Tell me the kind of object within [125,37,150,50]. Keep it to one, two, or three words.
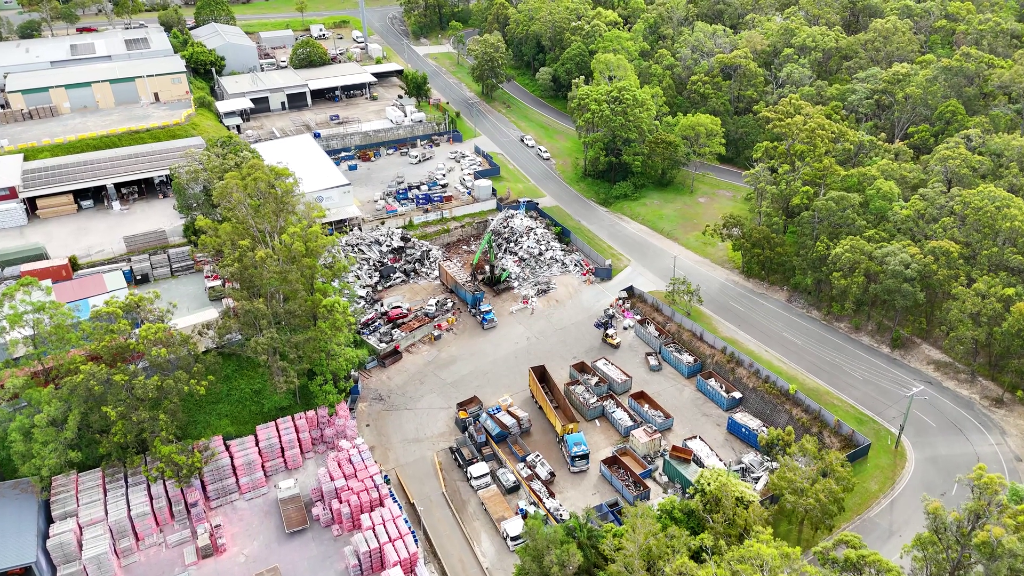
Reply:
solar array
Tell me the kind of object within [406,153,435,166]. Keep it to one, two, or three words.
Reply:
vehicle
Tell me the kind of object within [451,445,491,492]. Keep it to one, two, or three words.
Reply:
truck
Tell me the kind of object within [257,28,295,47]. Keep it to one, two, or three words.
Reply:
shed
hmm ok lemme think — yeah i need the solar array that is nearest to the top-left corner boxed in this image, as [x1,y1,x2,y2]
[70,41,96,55]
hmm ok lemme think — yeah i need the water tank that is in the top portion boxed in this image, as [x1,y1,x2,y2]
[472,178,493,203]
